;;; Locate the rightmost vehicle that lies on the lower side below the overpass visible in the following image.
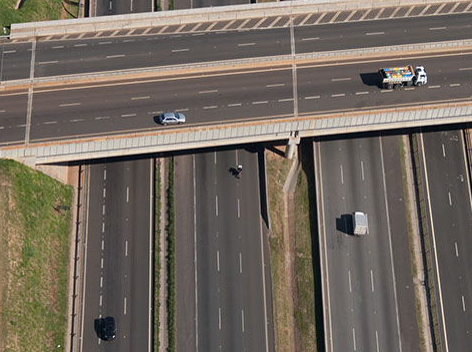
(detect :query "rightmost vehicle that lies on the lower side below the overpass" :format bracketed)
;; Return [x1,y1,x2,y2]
[352,213,367,236]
